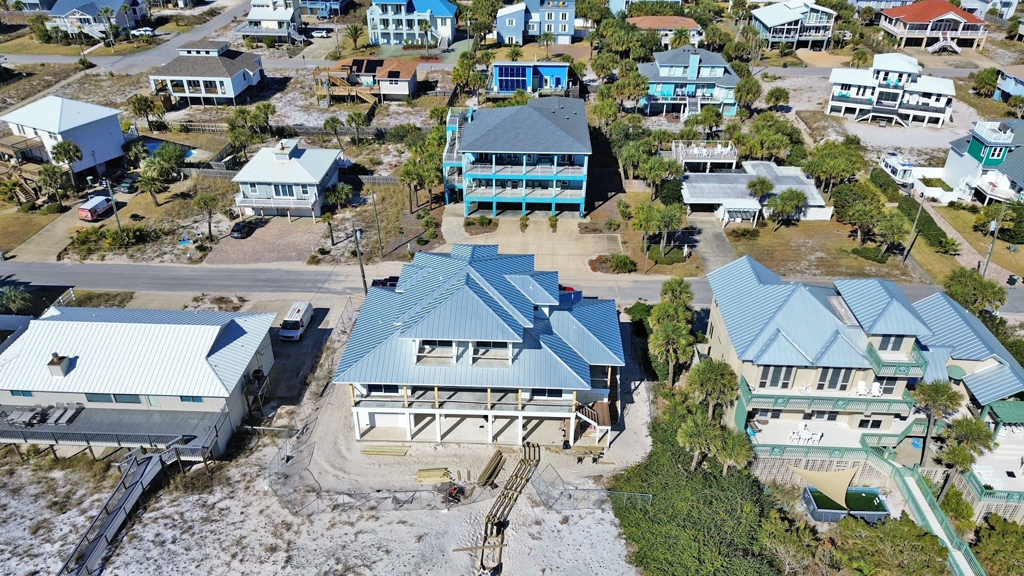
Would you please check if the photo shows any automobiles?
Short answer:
Yes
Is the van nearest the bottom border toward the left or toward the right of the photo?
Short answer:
left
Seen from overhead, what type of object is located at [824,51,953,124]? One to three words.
house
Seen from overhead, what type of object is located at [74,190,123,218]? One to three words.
van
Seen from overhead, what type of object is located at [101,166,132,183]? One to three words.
car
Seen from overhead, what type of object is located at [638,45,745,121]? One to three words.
house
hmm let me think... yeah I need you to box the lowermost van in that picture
[277,292,321,337]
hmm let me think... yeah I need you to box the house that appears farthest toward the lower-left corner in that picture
[0,298,279,480]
